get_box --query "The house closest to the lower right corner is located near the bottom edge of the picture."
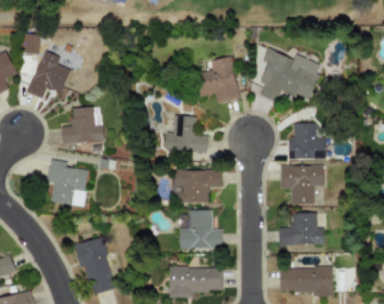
[280,268,334,297]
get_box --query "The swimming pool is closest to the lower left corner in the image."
[152,211,172,232]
